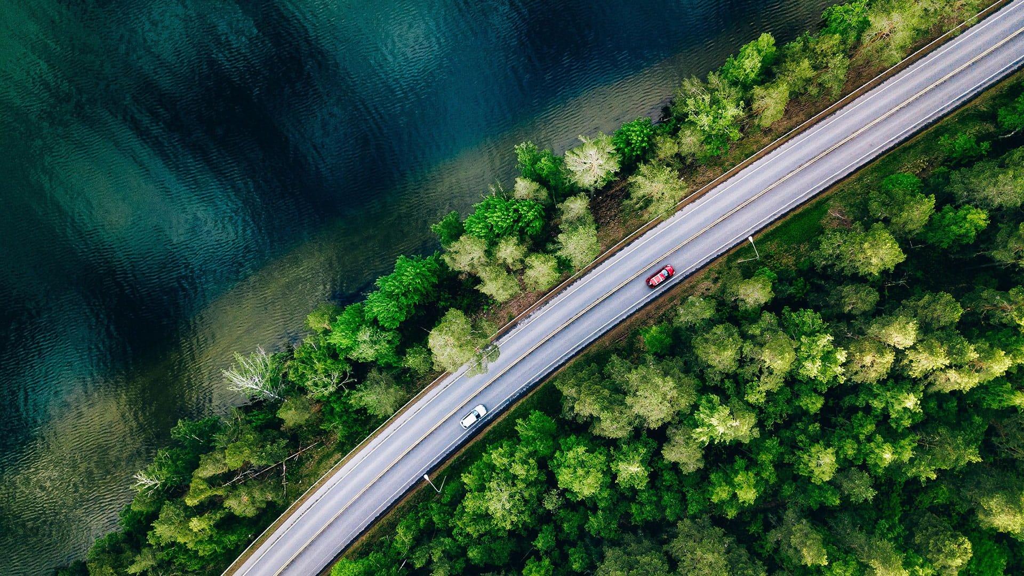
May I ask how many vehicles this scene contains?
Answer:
2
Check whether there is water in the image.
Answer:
Yes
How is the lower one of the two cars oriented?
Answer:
diagonally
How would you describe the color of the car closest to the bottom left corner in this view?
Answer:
white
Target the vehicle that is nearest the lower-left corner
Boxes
[460,405,487,429]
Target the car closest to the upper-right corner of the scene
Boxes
[647,266,674,288]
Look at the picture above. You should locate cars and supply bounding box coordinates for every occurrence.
[460,405,487,429]
[647,266,674,288]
